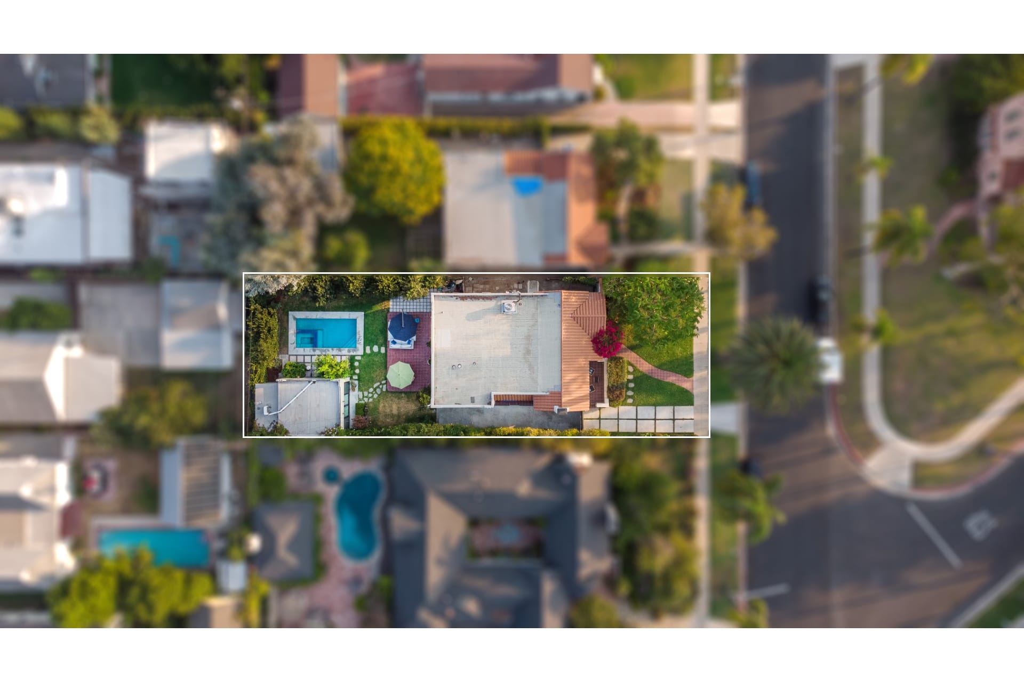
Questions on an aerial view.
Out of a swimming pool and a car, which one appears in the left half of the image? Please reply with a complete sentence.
The one visible in the left half of the image is a swimming pool.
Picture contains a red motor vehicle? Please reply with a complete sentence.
No, there's no red motor vehicle here.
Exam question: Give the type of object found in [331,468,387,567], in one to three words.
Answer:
swimming pool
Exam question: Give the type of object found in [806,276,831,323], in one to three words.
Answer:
car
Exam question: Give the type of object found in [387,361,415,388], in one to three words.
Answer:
umbrella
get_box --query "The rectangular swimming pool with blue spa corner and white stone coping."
[288,312,364,355]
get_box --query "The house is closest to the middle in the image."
[431,291,608,415]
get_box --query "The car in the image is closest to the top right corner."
[740,161,763,208]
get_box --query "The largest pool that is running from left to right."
[91,518,214,573]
